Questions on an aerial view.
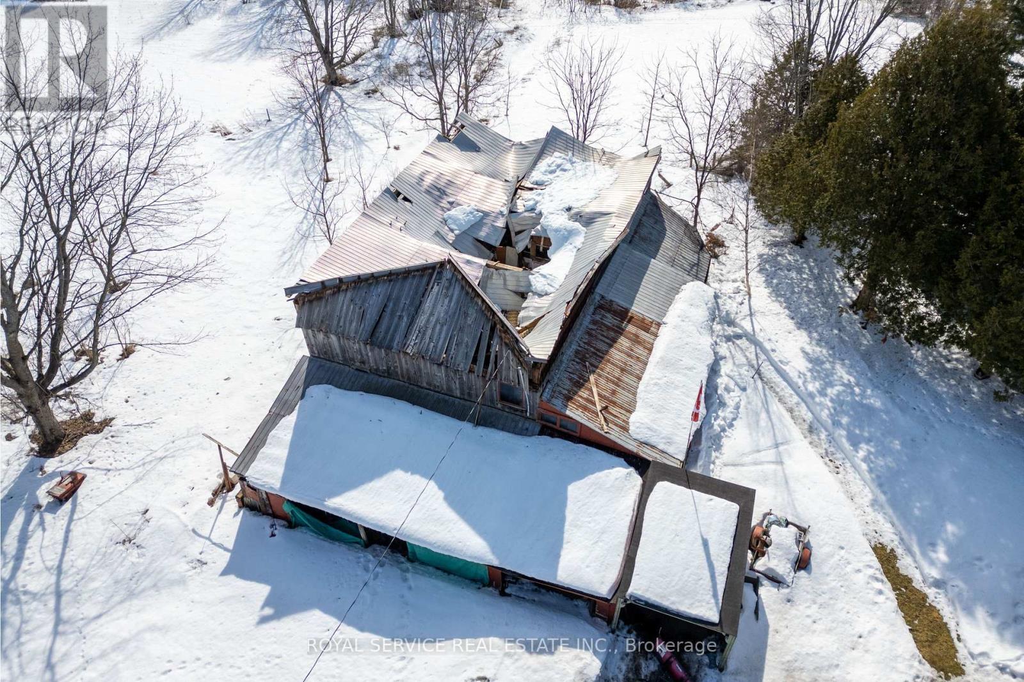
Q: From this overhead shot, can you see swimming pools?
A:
No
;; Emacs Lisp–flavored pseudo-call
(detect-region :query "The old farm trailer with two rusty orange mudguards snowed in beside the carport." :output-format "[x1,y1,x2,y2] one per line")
[749,509,815,591]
